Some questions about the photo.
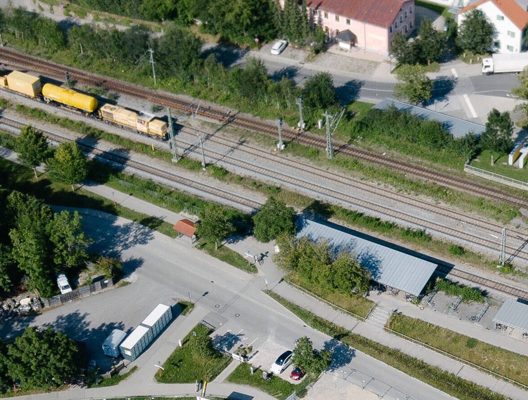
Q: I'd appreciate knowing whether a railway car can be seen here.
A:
Yes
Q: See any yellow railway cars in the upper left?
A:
Yes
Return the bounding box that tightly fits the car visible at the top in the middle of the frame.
[269,37,289,53]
